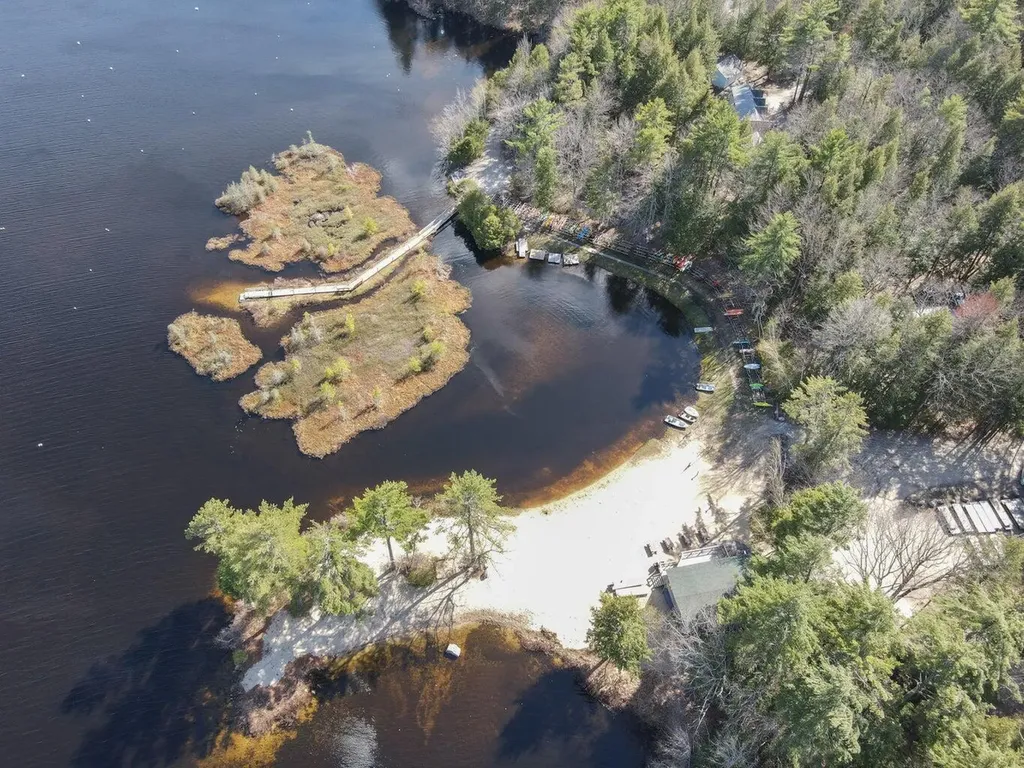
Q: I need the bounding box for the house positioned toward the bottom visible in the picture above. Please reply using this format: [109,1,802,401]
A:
[642,542,761,625]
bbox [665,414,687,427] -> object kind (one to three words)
boat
